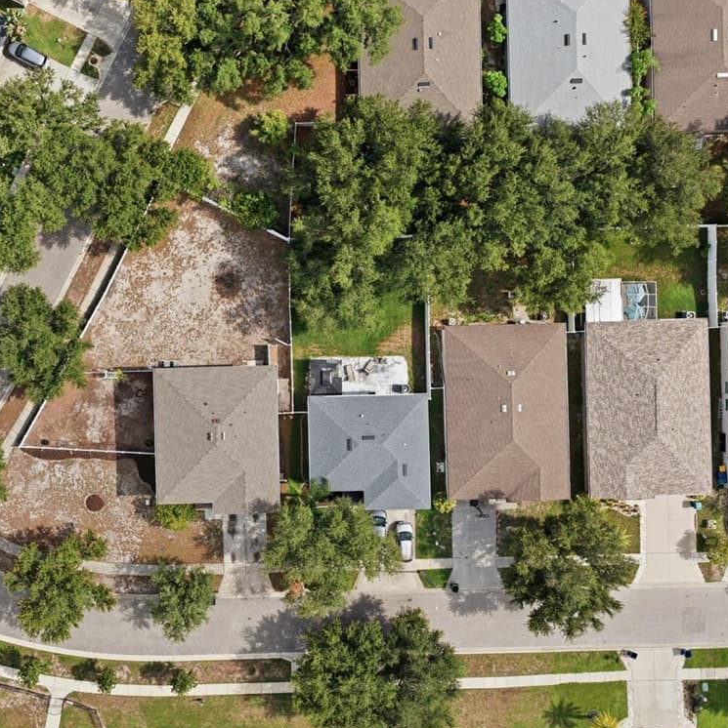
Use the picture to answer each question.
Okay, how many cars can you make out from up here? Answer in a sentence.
In total, there are 3 cars in the scene.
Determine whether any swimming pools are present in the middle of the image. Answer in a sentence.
No, the scene shows no swimming pool in the middle of the image.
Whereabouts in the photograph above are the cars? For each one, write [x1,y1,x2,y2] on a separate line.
[369,511,391,553]
[394,519,417,565]
[3,38,52,71]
